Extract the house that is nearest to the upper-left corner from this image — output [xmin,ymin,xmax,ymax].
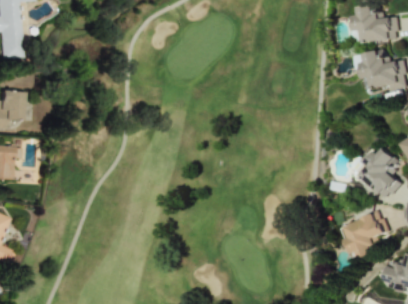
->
[0,0,36,58]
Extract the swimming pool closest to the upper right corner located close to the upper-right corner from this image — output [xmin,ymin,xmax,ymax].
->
[337,22,350,42]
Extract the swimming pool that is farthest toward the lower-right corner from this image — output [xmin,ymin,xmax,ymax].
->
[338,250,352,270]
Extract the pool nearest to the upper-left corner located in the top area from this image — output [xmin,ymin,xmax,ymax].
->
[29,2,53,20]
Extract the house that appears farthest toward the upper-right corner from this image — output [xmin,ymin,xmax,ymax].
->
[348,4,400,43]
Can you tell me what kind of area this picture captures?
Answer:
golf course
